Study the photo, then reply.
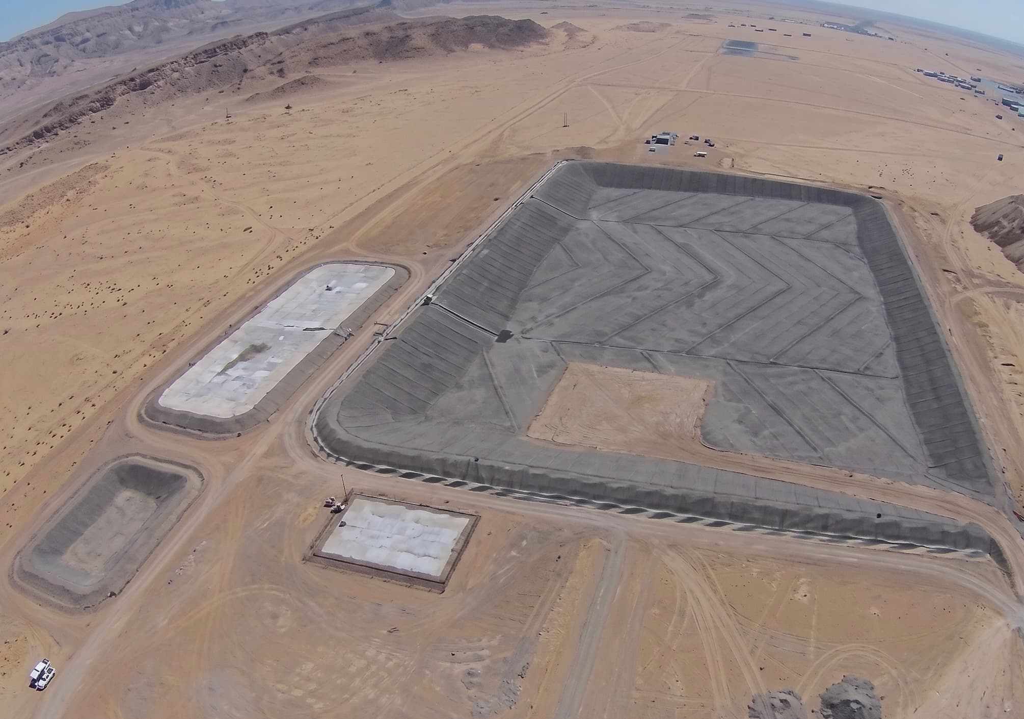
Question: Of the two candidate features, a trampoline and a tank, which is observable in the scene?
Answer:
tank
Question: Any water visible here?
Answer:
Yes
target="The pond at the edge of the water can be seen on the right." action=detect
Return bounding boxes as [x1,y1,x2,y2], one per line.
[313,161,1018,599]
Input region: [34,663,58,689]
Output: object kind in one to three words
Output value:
truck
